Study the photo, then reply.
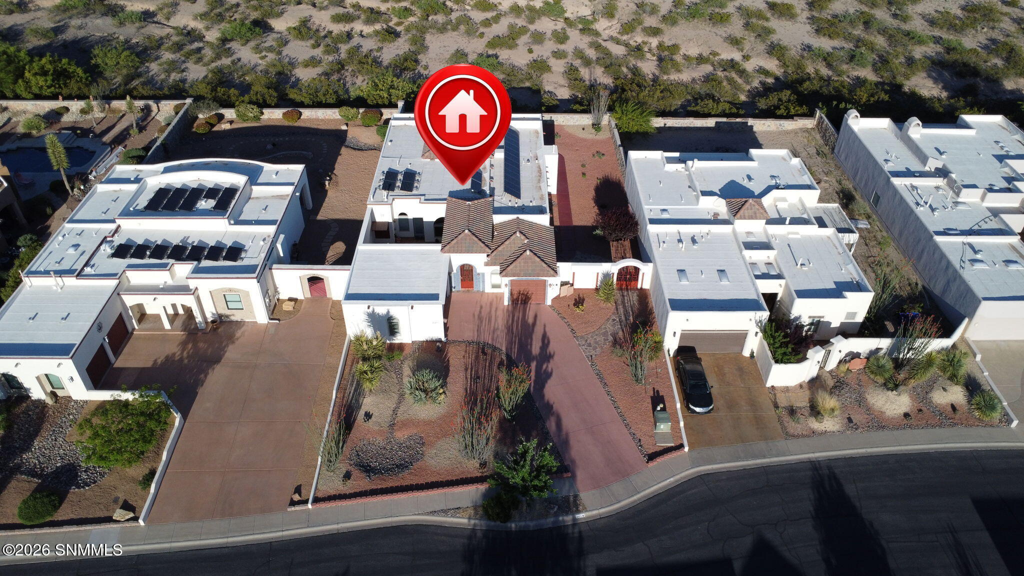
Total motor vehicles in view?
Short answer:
1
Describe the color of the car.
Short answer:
black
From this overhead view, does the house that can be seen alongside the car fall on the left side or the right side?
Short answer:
right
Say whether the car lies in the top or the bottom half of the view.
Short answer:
bottom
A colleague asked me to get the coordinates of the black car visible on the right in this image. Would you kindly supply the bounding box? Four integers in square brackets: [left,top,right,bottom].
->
[678,352,714,404]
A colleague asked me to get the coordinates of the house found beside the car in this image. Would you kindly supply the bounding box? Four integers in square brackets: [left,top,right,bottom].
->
[626,150,873,356]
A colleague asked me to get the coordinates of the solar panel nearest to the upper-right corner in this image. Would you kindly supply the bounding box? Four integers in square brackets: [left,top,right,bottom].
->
[503,124,521,200]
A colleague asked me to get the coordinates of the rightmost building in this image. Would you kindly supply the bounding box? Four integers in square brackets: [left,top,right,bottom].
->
[839,109,1024,340]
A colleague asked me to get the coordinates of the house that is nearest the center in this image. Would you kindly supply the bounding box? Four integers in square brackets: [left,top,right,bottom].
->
[342,114,559,343]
